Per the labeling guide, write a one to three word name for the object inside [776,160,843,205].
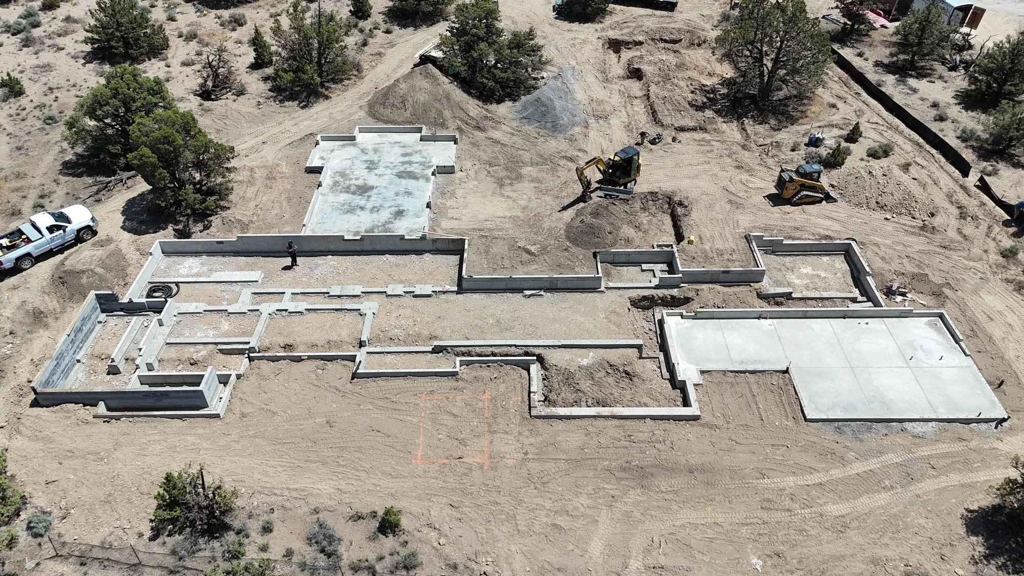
work vehicle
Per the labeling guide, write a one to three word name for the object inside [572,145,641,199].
work vehicle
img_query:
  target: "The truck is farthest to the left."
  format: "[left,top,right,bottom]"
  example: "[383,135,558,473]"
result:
[0,206,103,272]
